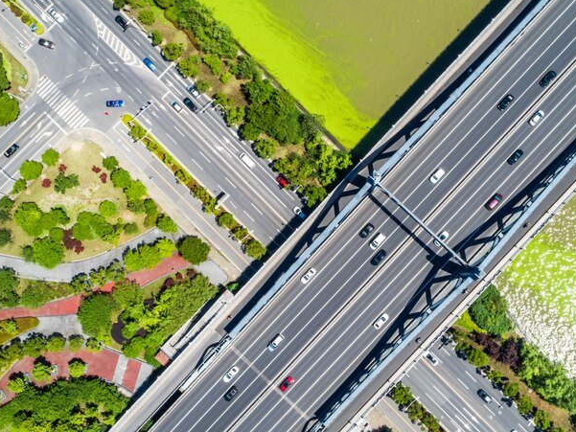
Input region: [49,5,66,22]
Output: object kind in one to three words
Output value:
car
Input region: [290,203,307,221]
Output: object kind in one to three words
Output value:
car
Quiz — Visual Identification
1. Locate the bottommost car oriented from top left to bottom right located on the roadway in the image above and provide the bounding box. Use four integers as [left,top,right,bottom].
[475,387,492,405]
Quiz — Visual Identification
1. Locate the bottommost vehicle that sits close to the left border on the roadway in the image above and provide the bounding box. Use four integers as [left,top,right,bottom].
[3,142,21,160]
